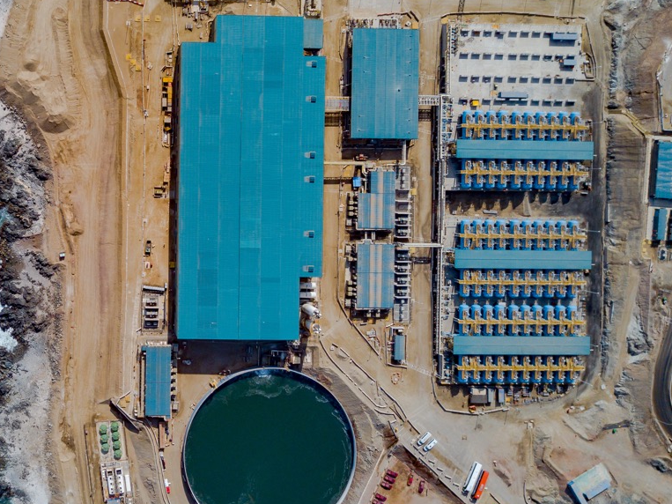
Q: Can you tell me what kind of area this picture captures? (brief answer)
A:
industrial area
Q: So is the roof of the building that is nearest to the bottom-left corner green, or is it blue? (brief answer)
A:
blue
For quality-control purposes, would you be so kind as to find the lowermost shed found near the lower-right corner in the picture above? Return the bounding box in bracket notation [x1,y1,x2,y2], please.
[568,463,611,504]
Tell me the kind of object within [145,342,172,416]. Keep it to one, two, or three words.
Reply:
building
